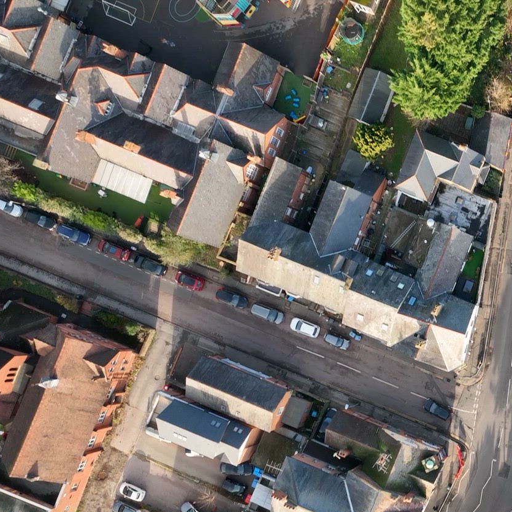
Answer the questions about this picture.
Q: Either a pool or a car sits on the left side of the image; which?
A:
car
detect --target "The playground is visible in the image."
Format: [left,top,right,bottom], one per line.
[49,0,341,83]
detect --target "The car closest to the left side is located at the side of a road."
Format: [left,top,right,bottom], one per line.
[0,196,26,220]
